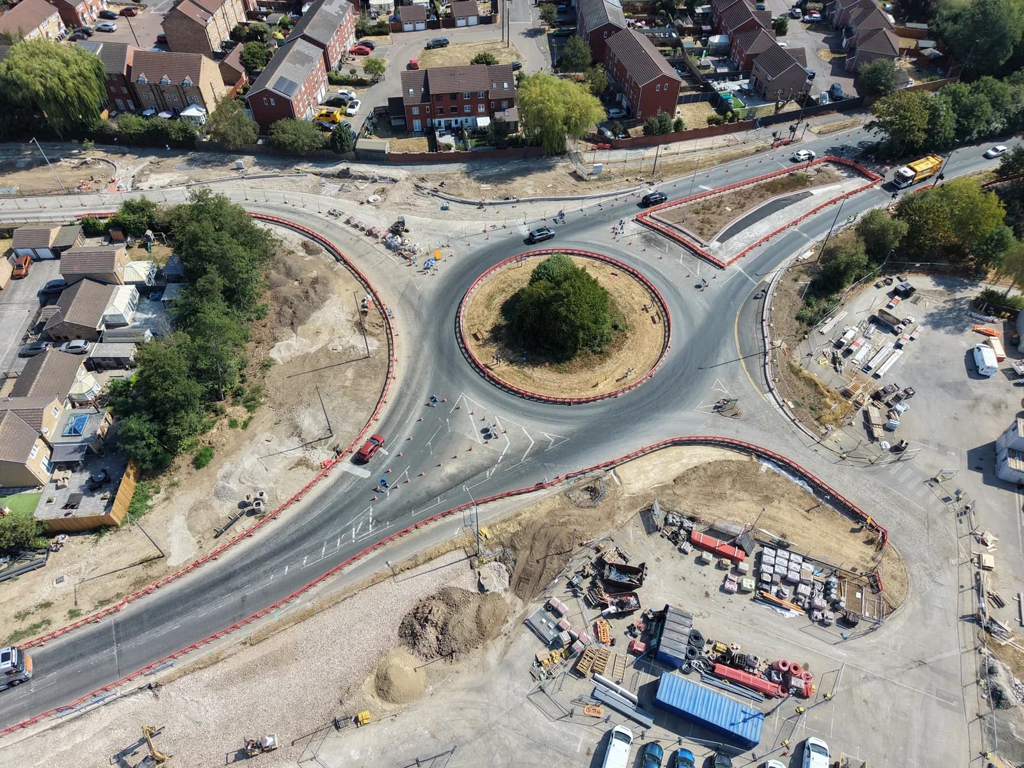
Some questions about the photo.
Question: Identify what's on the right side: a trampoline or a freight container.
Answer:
freight container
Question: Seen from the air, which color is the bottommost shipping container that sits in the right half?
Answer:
blue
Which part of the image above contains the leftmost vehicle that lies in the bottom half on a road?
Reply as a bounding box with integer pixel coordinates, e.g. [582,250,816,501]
[0,651,39,688]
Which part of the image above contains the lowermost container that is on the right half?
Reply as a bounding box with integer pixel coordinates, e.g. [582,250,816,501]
[649,673,765,749]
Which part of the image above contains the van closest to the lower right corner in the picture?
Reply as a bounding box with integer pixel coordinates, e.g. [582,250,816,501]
[801,732,832,768]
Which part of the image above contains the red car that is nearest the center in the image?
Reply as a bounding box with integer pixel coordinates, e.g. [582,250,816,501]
[355,434,385,467]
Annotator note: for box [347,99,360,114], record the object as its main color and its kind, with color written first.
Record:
white vehicle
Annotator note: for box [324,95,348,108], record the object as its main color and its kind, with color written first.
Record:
black vehicle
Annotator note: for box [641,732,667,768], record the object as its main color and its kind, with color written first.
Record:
blue car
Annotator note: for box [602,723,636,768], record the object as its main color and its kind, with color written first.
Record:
white van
